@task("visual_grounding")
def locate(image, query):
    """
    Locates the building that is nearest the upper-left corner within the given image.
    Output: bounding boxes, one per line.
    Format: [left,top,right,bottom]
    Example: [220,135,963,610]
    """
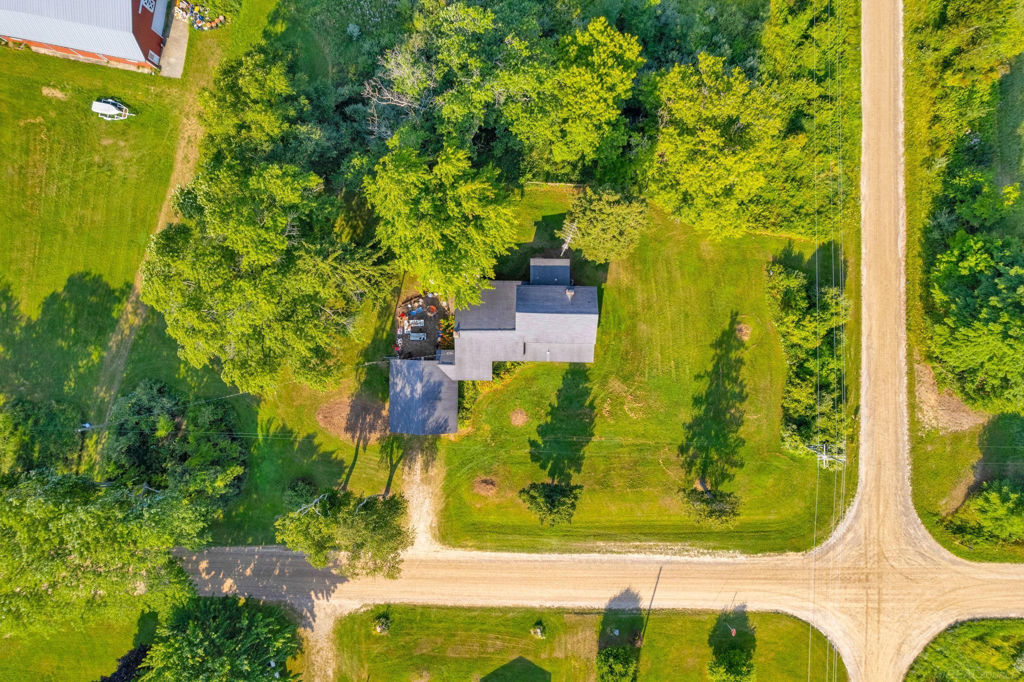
[0,0,172,73]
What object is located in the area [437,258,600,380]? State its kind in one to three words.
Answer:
house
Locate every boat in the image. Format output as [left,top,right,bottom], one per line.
[87,98,119,113]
